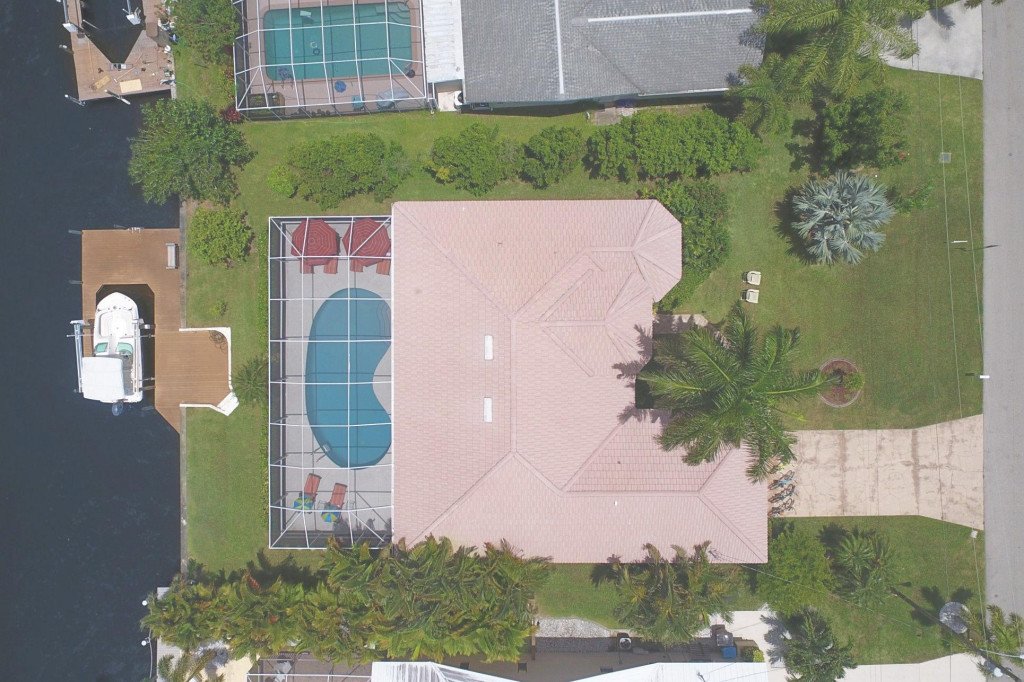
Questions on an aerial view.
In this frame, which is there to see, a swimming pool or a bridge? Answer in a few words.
swimming pool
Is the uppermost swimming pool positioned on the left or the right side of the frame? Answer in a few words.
left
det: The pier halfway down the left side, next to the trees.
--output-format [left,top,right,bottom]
[81,229,230,433]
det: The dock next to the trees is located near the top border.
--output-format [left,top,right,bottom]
[70,0,173,103]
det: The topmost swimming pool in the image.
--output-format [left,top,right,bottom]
[259,0,415,84]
